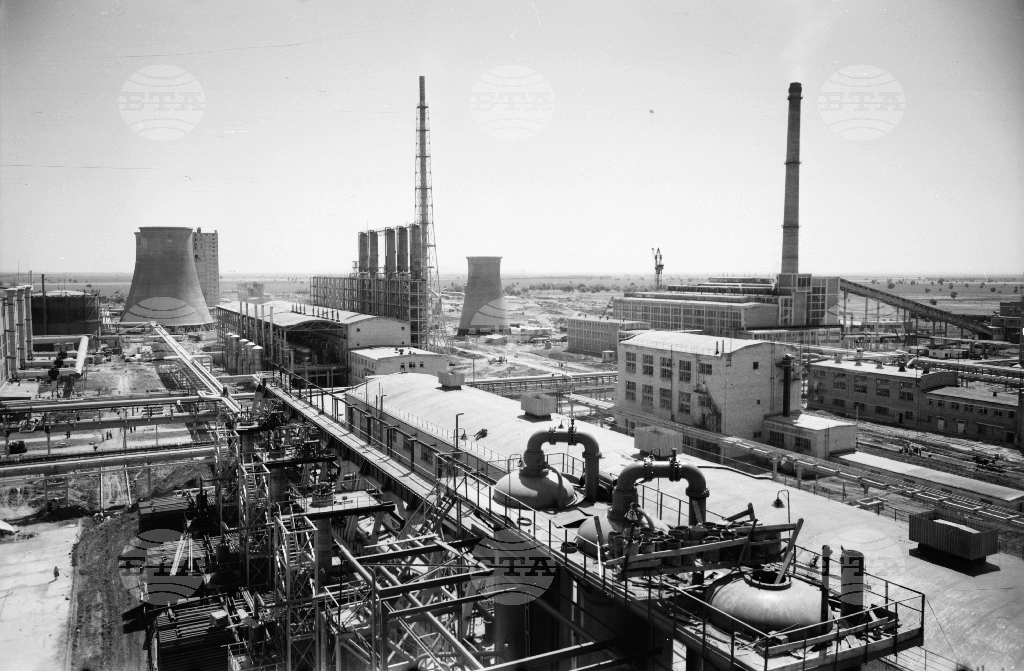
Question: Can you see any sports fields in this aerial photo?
No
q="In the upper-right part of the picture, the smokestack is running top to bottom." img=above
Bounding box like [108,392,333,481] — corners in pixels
[777,81,801,273]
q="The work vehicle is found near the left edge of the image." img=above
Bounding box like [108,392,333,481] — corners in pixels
[8,437,30,453]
